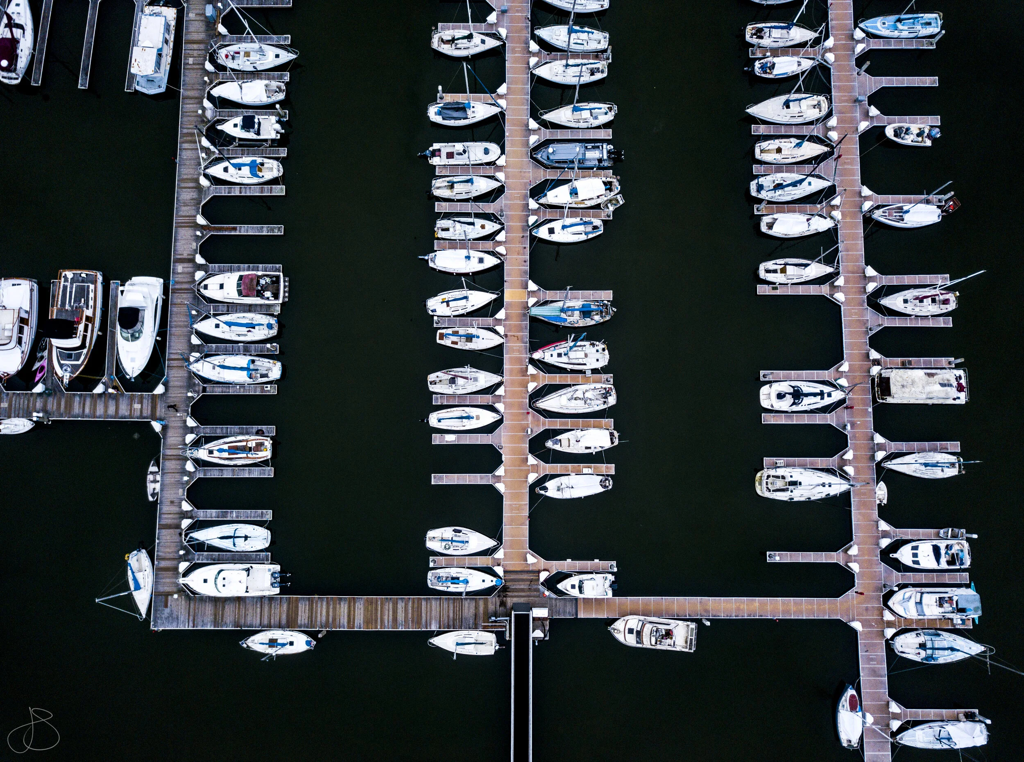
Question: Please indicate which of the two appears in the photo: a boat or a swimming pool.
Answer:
boat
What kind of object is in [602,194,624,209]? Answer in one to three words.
boat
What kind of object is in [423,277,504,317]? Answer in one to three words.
boat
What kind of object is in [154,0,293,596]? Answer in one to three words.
pier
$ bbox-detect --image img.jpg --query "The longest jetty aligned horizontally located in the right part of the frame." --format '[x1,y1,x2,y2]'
[578,586,859,631]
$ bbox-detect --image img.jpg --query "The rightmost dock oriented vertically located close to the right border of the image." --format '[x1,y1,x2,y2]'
[748,0,979,762]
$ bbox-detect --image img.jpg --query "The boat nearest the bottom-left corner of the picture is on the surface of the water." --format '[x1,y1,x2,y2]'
[95,544,159,621]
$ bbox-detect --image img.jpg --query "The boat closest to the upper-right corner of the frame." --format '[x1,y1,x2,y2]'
[853,0,945,38]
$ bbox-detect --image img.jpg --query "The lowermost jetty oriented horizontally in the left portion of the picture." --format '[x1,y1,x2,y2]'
[150,571,578,640]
